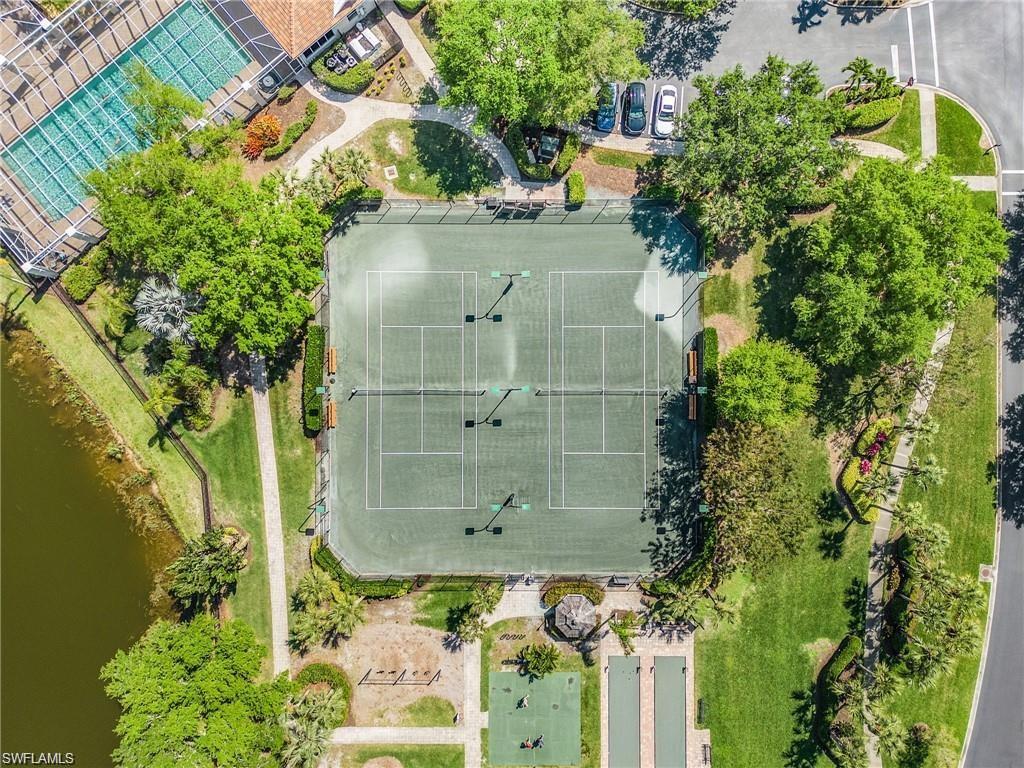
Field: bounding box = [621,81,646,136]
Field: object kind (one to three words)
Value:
car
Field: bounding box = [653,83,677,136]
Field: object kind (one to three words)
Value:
car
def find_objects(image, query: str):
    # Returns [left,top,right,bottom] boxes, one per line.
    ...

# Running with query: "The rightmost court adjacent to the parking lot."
[512,207,696,575]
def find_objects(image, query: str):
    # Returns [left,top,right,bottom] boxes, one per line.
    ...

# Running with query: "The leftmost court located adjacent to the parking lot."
[329,207,512,575]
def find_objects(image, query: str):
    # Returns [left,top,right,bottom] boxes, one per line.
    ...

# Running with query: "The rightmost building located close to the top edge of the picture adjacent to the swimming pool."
[246,0,380,62]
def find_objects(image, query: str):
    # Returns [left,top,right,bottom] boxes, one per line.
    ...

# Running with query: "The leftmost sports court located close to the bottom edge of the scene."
[489,672,581,766]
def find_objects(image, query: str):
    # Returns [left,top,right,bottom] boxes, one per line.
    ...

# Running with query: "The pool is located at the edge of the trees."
[0,0,253,225]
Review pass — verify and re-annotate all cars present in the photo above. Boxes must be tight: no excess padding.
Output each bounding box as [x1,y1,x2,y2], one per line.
[594,81,618,132]
[653,83,677,136]
[621,81,646,136]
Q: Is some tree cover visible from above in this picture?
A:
Yes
